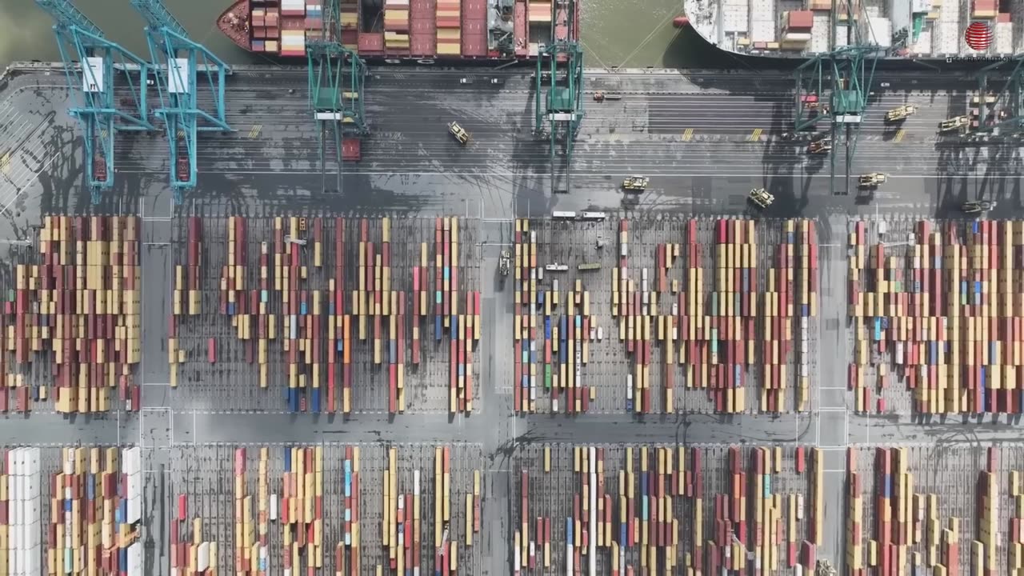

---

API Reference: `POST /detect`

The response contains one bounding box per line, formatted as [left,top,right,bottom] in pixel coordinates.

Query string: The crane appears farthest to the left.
[41,0,159,199]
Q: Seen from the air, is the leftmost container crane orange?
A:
No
